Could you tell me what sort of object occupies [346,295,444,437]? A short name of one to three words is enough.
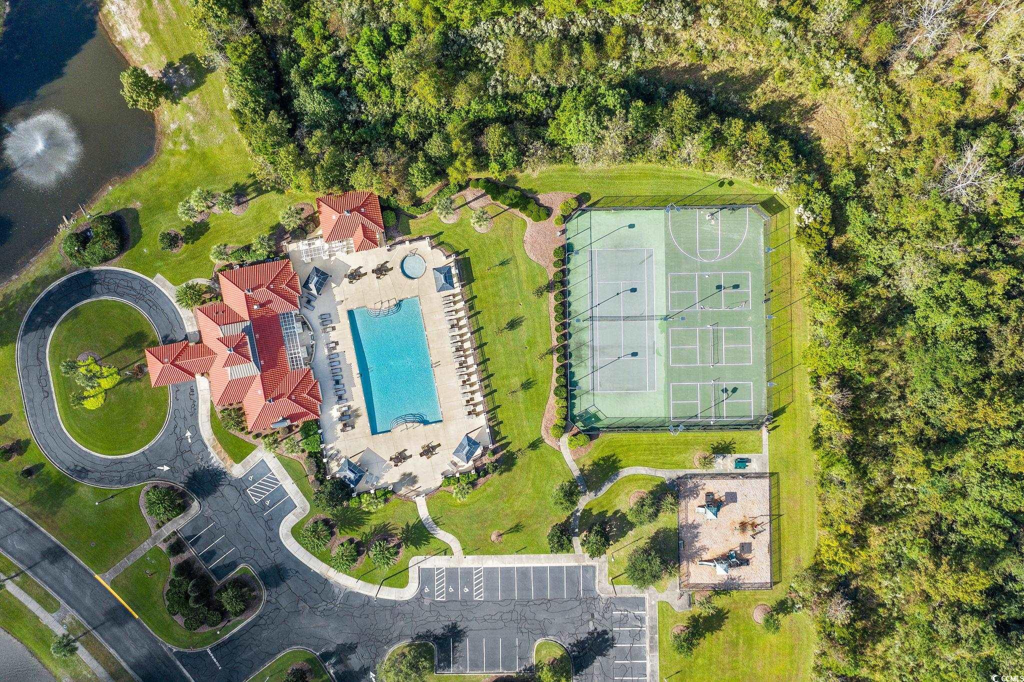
swimming pool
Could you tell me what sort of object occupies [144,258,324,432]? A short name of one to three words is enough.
building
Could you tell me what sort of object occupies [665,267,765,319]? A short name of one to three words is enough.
sports court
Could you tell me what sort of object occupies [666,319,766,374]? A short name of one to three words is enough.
sports court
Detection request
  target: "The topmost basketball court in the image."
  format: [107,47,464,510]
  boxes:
[665,208,765,267]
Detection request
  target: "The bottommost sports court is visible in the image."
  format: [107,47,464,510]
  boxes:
[666,374,766,430]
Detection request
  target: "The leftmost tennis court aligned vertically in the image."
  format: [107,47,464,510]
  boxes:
[567,208,666,430]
